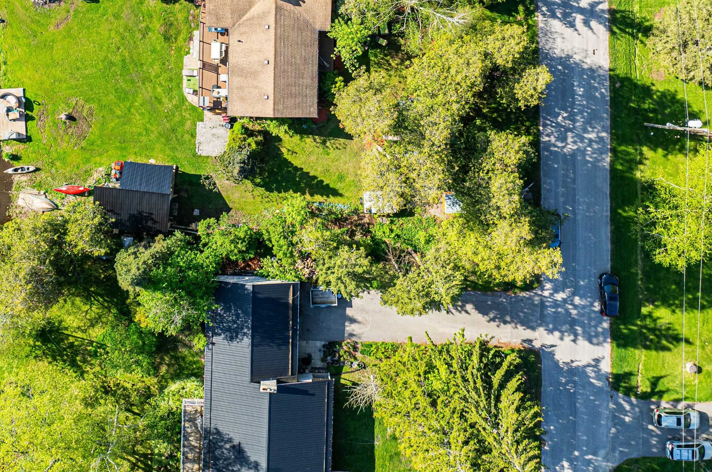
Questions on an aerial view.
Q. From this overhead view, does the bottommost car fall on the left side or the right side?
right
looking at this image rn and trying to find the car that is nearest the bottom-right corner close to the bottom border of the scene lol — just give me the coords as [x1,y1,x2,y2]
[664,438,711,461]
